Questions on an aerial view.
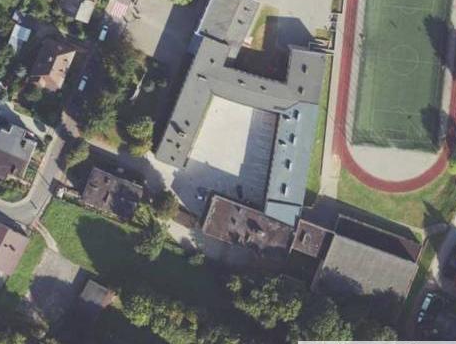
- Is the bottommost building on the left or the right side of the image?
left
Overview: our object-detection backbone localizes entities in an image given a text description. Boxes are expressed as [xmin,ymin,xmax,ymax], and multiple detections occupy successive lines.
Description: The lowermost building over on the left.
[81,280,107,305]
